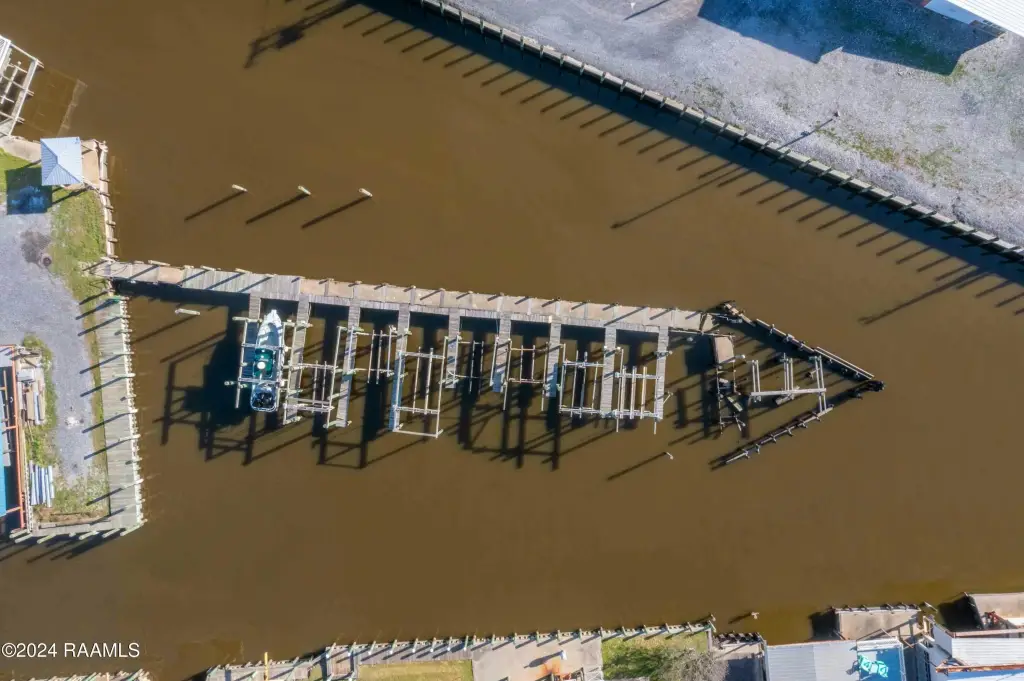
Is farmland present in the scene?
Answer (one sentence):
No, there is no farmland in the image.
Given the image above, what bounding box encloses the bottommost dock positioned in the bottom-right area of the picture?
[833,601,937,663]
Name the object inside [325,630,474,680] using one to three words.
pier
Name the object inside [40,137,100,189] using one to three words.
gazebo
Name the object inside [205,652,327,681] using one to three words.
pier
